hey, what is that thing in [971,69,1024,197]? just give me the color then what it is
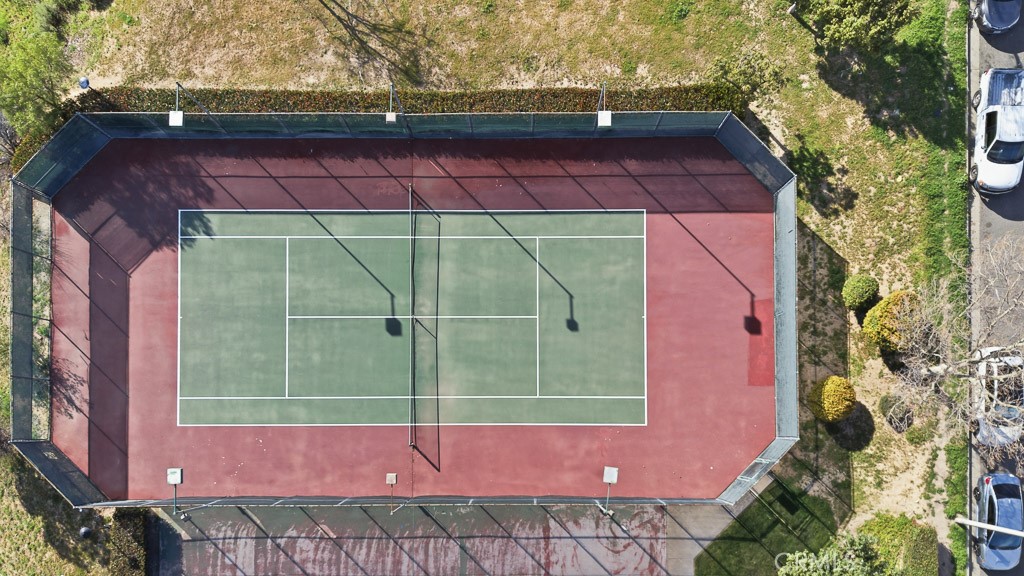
white truck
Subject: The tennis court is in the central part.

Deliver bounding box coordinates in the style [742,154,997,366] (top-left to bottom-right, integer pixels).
[52,137,775,499]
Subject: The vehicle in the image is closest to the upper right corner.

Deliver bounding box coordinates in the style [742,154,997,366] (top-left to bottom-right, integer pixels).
[975,0,1022,37]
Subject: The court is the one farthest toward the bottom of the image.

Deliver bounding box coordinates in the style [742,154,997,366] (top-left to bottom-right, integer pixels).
[158,506,667,576]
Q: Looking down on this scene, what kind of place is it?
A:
sports ground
